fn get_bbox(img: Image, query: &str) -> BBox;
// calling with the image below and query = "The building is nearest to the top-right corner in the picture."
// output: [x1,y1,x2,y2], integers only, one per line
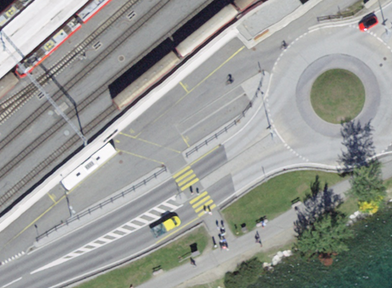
[238,0,316,45]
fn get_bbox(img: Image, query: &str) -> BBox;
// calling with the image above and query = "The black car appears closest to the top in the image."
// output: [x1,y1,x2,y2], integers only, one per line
[359,14,380,29]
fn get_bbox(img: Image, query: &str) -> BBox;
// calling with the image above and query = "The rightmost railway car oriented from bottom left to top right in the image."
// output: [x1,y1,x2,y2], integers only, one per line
[175,2,239,56]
